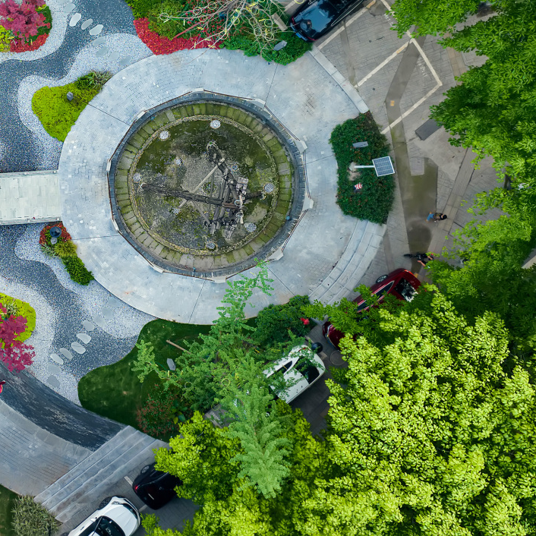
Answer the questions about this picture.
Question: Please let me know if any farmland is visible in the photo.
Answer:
No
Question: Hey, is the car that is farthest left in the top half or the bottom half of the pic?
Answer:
bottom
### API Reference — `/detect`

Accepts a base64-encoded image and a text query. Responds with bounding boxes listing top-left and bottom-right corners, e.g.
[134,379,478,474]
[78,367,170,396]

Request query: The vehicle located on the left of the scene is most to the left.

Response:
[55,485,139,536]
